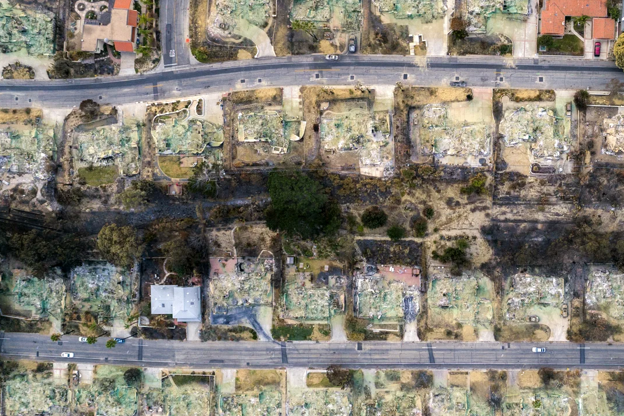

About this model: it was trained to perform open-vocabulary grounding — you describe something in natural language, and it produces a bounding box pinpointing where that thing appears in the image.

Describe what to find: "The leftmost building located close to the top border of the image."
[0,8,63,59]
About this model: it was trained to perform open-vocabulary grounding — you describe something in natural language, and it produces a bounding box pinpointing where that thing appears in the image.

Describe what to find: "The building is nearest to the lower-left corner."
[0,372,72,416]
